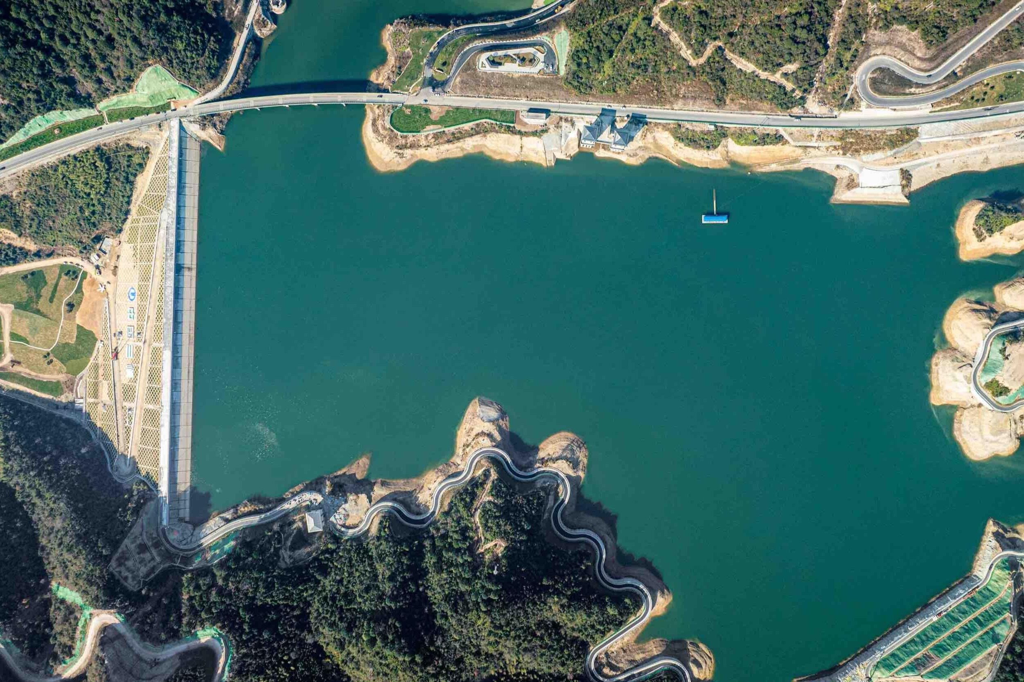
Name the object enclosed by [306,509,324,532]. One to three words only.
building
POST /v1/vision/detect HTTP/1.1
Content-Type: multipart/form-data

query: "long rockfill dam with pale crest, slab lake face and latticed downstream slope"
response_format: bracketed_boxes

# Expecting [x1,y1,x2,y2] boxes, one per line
[75,120,202,523]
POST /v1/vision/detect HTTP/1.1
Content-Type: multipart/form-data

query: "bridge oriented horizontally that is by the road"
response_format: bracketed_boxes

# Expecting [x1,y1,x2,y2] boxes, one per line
[188,92,409,115]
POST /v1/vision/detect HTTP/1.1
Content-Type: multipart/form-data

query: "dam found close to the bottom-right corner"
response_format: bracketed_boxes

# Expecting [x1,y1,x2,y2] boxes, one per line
[796,551,1024,682]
